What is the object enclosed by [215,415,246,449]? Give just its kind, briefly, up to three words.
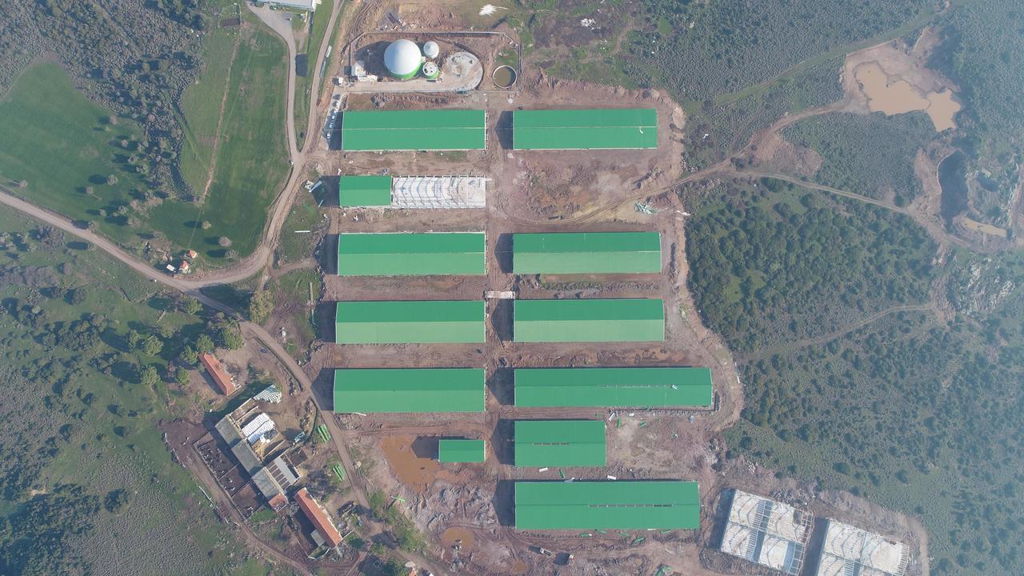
barn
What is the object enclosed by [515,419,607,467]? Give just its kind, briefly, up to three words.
shed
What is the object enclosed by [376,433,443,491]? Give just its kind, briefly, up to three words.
pond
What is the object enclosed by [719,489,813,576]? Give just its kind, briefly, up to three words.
building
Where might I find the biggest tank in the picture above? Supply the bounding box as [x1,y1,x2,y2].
[384,40,422,81]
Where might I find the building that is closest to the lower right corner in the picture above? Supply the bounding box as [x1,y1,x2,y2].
[814,519,914,576]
